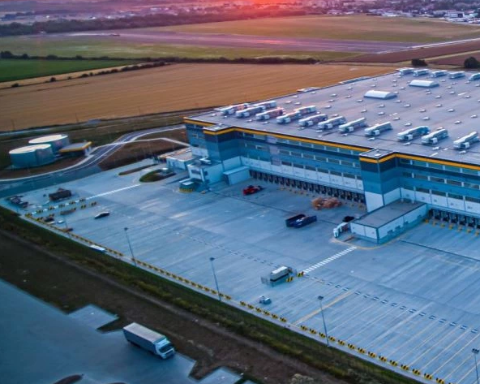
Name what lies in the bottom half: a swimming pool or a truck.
truck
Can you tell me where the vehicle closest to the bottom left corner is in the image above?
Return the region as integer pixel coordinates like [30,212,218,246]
[125,323,175,358]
